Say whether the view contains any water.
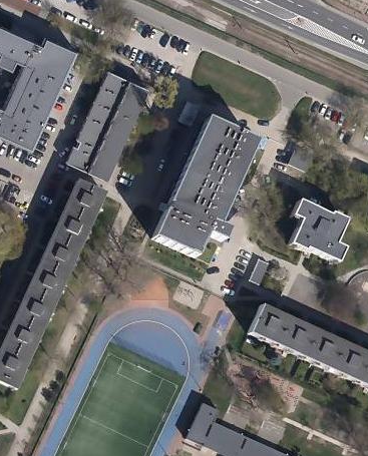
No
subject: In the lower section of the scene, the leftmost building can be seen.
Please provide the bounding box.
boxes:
[0,179,107,389]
